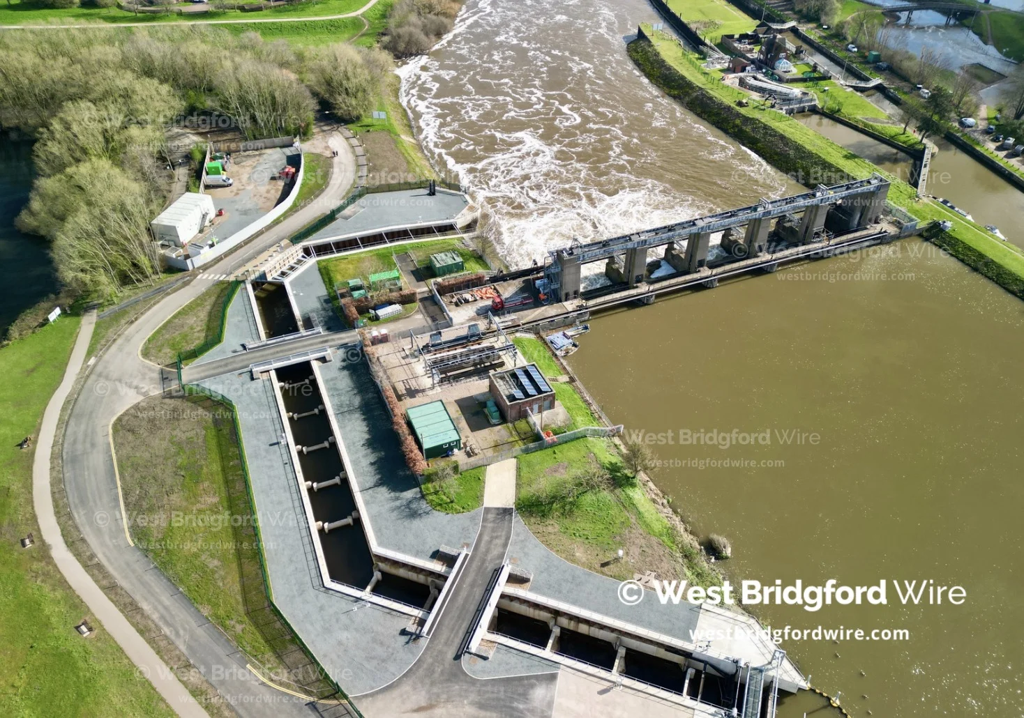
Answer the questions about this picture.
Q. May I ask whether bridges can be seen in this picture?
Yes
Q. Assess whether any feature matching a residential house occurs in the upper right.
Yes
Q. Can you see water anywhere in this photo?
Yes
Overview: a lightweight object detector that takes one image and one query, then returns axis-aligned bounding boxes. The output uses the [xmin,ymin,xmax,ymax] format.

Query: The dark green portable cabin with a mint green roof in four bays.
[400,395,461,458]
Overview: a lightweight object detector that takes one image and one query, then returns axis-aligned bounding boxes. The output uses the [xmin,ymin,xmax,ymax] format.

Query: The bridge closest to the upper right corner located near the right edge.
[879,4,982,24]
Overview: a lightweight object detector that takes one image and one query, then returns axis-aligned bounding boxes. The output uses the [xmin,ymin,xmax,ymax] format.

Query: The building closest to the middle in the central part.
[485,359,556,422]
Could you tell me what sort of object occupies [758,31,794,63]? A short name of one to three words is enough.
house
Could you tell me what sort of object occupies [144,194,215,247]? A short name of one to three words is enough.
building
